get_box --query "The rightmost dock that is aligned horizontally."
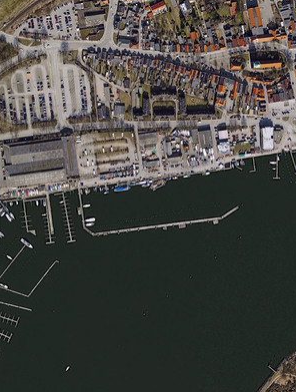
[78,191,238,236]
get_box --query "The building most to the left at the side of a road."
[2,136,68,191]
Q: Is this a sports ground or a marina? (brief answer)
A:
marina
